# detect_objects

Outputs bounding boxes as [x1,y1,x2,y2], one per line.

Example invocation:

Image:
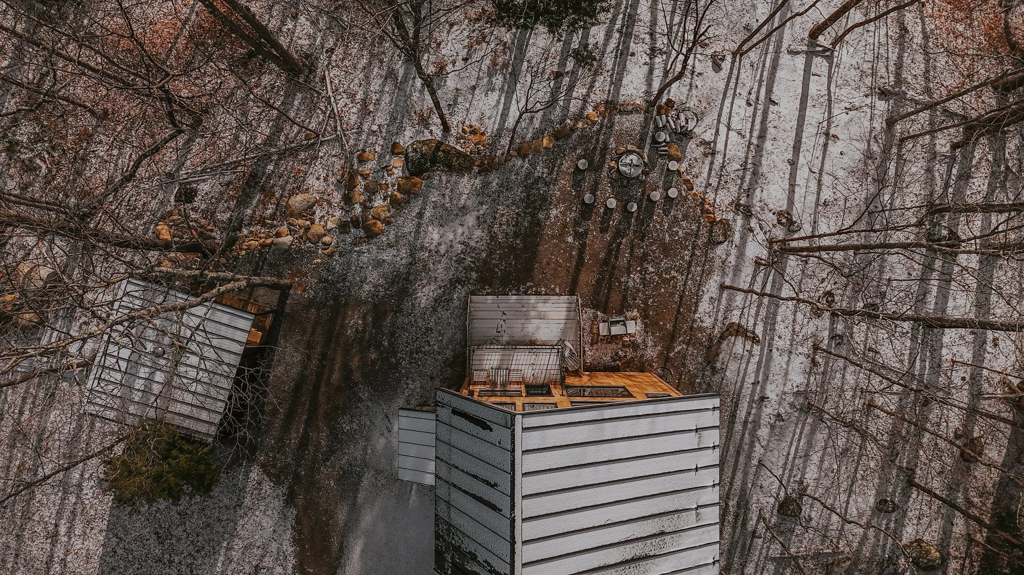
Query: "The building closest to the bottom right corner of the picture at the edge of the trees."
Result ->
[399,371,722,575]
